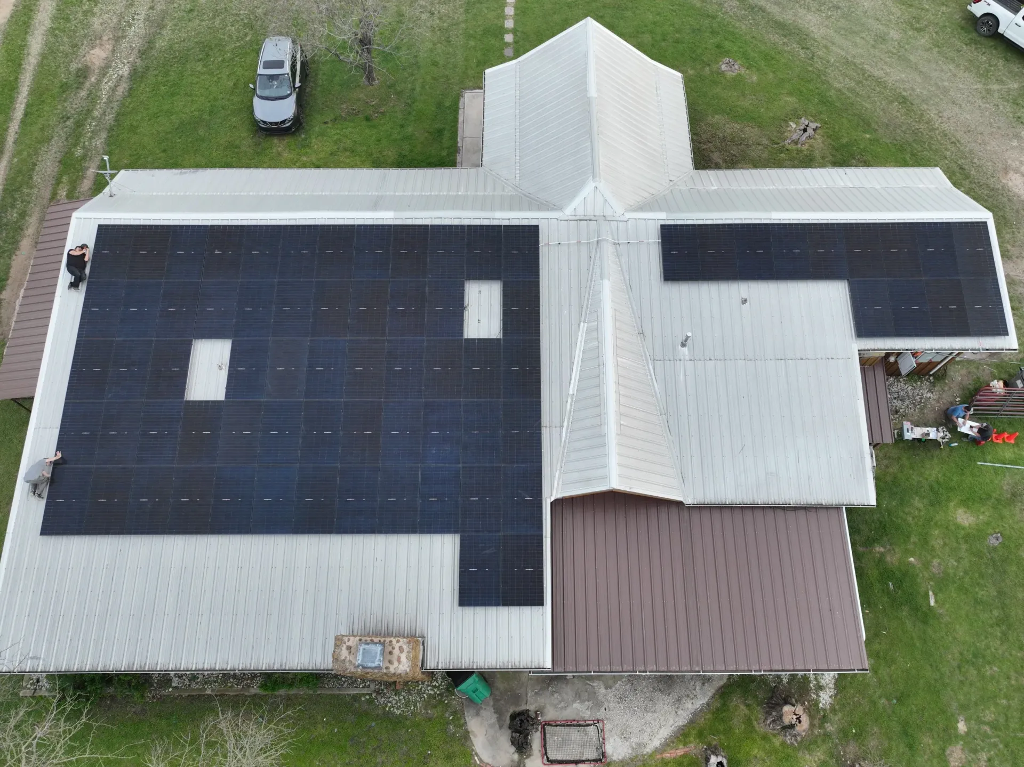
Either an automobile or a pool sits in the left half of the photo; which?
automobile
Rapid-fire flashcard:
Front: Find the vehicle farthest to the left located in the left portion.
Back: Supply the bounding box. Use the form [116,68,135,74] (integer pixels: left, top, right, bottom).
[244,36,310,134]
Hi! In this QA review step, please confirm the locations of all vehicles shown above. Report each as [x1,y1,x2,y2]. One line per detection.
[969,0,1024,55]
[244,36,310,134]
